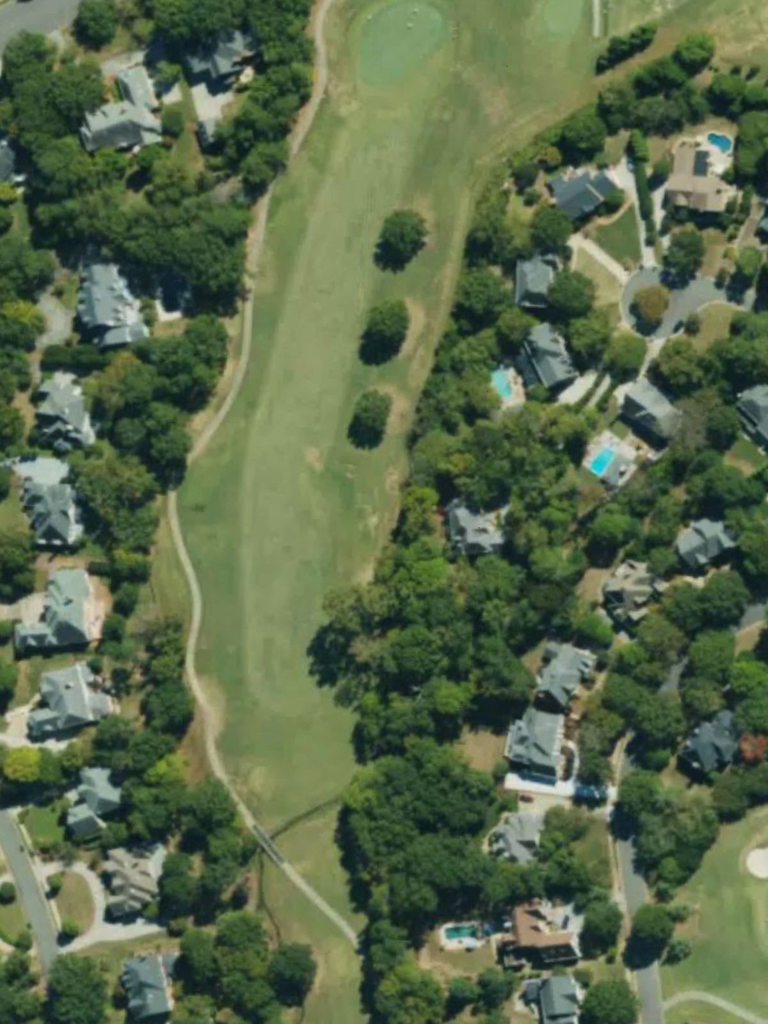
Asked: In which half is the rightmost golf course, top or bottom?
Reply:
bottom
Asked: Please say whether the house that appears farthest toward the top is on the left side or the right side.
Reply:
left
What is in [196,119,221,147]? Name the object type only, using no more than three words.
house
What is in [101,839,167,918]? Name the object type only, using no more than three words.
house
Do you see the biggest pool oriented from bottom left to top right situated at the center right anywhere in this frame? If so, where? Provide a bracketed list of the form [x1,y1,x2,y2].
[588,444,617,477]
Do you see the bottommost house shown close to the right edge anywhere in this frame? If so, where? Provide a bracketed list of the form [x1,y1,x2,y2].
[684,708,739,775]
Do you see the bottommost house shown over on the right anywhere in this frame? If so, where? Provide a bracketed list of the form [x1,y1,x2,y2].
[519,971,585,1024]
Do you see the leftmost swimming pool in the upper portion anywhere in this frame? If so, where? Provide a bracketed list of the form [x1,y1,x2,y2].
[492,368,512,400]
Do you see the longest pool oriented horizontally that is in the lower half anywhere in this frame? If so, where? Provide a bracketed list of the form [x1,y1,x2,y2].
[444,925,478,940]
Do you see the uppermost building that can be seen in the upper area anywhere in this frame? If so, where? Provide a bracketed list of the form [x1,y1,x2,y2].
[185,35,256,89]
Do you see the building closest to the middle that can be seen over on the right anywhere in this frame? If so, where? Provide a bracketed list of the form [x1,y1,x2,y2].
[445,502,511,558]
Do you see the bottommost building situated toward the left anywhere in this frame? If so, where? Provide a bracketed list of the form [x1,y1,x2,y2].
[121,949,180,1022]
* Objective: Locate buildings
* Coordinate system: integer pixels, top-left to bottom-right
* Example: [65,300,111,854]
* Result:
[734,377,768,456]
[495,805,545,865]
[684,708,739,775]
[12,567,94,654]
[514,254,563,308]
[196,119,221,147]
[605,559,668,623]
[61,764,127,837]
[185,35,256,89]
[542,162,623,221]
[121,949,180,1022]
[664,141,730,215]
[23,480,85,544]
[80,63,169,149]
[78,259,150,347]
[519,315,579,391]
[38,378,95,455]
[519,971,585,1024]
[506,706,565,775]
[101,839,167,918]
[613,376,680,450]
[673,514,735,567]
[445,502,511,558]
[537,640,597,713]
[24,661,121,731]
[499,898,583,964]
